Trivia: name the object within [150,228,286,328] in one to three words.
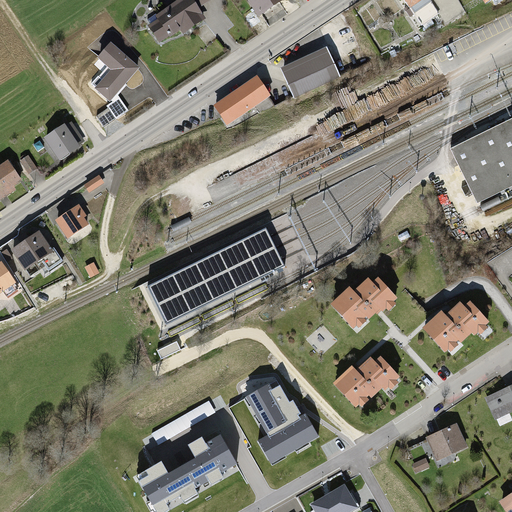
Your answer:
building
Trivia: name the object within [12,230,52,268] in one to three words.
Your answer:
house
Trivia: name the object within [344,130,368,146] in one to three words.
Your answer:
rail car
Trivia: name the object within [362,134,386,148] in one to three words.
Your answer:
rail car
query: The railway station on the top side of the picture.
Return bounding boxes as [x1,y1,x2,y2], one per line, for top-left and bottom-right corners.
[166,135,402,258]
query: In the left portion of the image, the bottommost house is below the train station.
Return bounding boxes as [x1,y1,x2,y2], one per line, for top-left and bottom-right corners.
[133,436,238,512]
